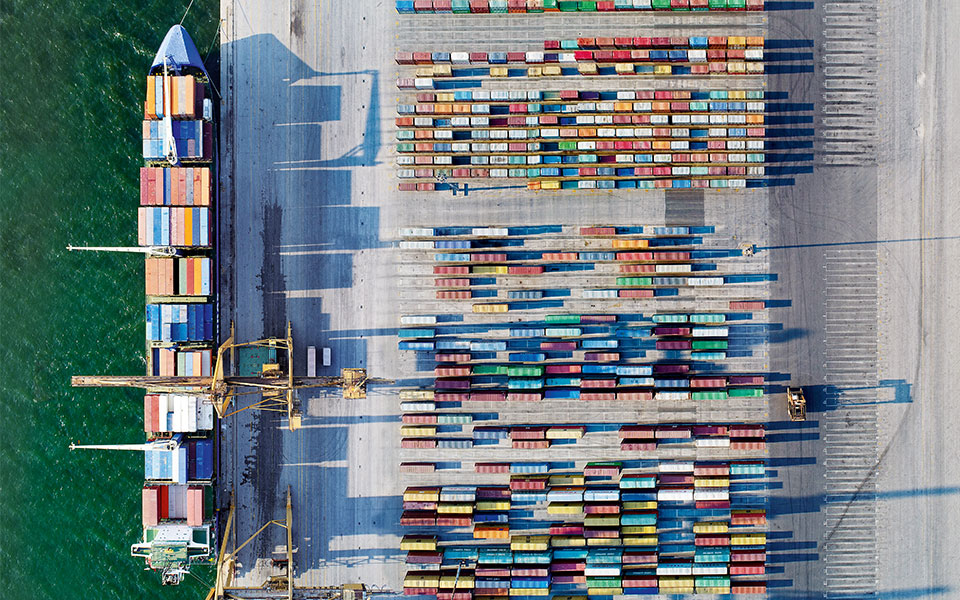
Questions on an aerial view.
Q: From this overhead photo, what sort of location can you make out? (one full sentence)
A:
This image shows a port.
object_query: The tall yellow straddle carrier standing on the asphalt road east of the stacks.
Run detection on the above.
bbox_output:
[777,383,807,420]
